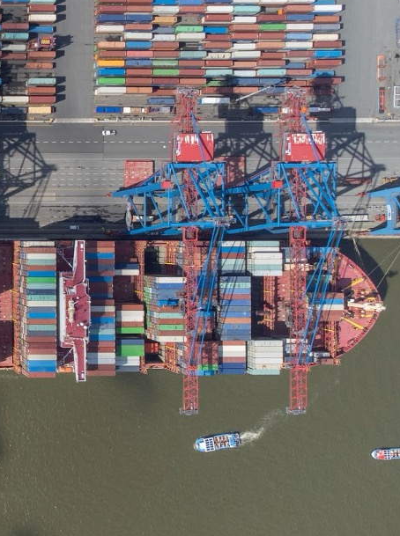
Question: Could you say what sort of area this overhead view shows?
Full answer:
The picture captures a port.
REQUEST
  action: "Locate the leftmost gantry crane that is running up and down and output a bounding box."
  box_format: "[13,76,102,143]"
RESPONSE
[108,84,235,413]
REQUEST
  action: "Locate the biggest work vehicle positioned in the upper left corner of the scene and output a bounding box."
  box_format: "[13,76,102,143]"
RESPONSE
[26,35,54,53]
